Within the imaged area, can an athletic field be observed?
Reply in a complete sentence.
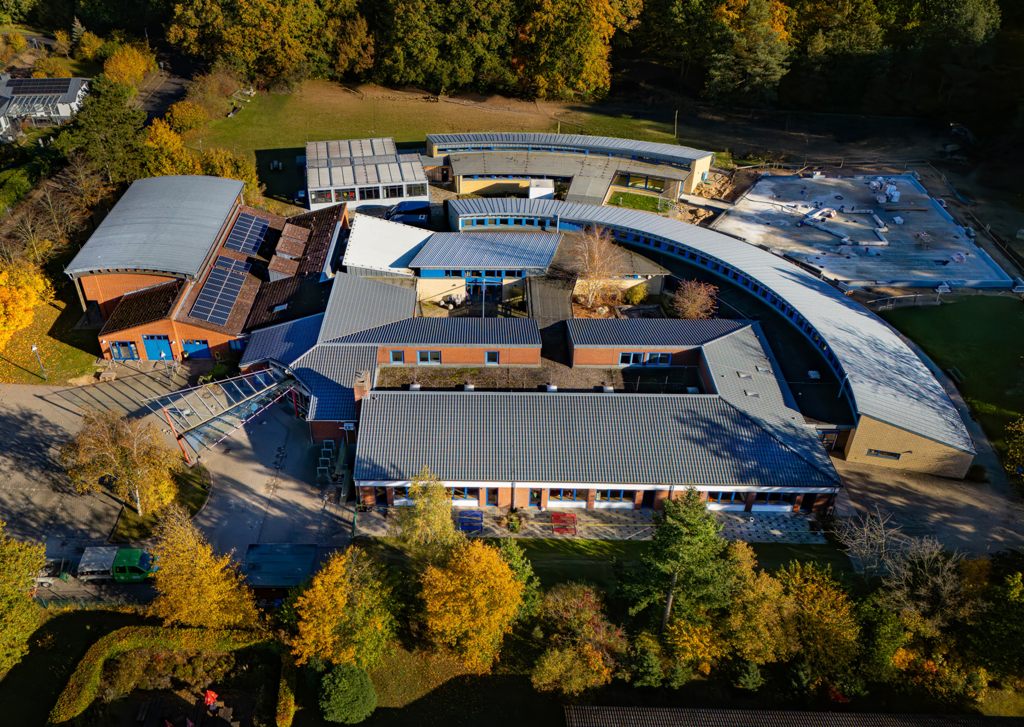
Yes, you can see an athletic field in this photo.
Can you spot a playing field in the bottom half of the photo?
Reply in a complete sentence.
No, looking in the bottom half of the photo, there is no playing field.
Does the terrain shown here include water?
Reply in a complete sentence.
No, there's no water in this view.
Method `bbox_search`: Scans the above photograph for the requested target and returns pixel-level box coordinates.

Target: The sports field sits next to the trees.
[190,79,943,221]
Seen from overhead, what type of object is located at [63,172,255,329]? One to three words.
building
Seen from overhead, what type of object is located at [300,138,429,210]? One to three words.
building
